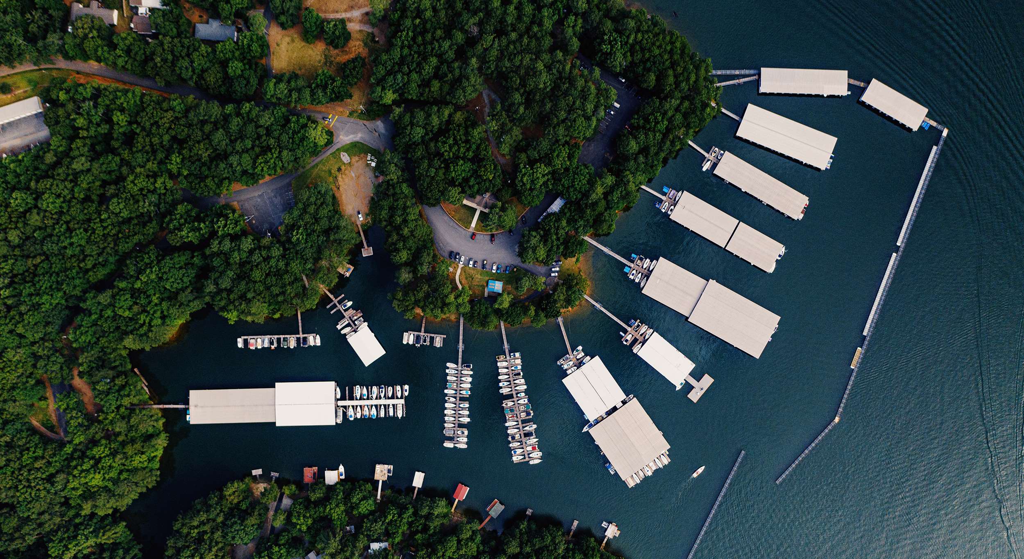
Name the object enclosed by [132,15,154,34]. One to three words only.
house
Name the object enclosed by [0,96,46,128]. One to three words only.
building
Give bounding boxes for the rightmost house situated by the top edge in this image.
[194,18,238,42]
